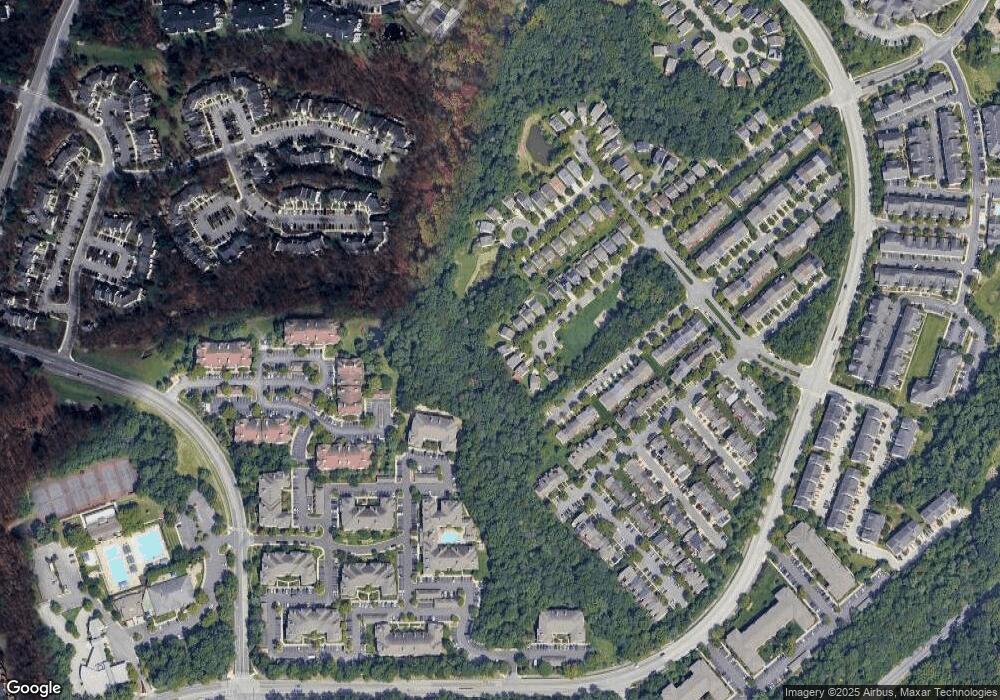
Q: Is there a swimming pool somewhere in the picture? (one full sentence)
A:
Yes, the photo shows a swimming pool.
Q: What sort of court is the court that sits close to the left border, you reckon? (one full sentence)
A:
In the photo, the court that sits close to the left border shows up as a tennis court.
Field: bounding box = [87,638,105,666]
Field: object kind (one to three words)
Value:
building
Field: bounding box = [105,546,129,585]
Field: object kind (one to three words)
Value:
swimming pool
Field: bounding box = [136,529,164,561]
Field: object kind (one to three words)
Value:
swimming pool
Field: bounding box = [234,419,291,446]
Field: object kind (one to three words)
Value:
building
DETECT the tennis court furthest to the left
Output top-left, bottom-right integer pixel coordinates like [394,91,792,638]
[31,459,139,521]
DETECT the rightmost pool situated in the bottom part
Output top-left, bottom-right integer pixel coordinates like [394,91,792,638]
[440,529,461,544]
